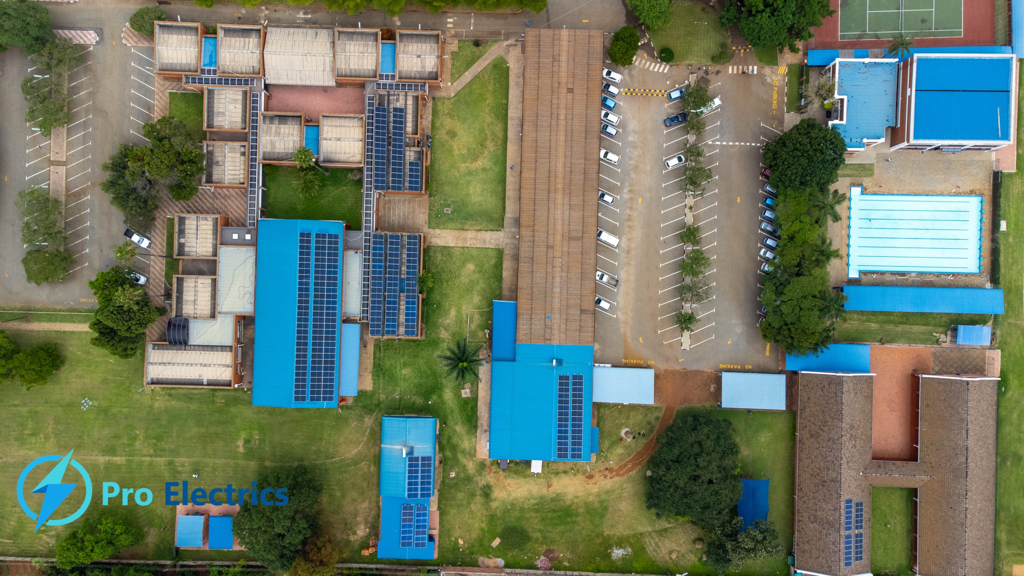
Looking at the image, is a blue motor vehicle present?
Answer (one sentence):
Yes, a blue motor vehicle can be made out from above.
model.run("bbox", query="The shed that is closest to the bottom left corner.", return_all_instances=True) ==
[177,513,208,547]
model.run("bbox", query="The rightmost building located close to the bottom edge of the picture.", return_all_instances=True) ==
[910,375,998,576]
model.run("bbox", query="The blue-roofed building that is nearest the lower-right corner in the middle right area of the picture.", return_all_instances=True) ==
[950,325,991,345]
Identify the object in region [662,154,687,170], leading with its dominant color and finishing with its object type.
white car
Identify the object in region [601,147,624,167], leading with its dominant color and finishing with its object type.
white vehicle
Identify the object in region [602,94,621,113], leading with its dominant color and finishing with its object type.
blue car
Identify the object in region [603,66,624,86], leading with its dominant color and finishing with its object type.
white car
